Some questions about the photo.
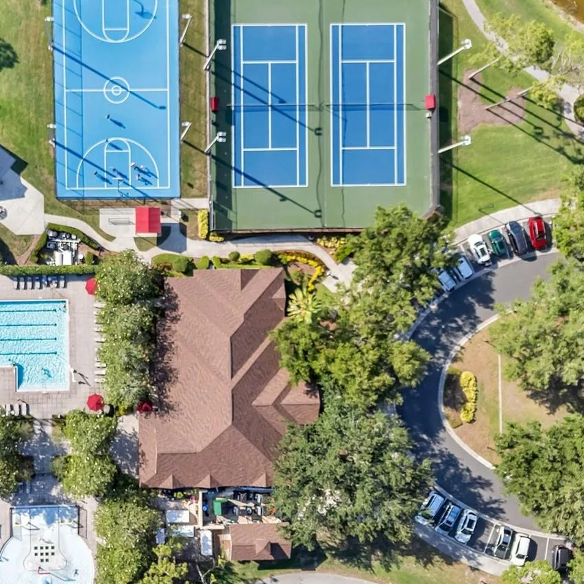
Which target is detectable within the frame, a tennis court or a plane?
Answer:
tennis court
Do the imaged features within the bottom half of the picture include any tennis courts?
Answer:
No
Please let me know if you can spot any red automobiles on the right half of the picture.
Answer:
Yes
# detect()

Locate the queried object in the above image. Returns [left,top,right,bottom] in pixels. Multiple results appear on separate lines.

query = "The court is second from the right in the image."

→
[213,0,323,229]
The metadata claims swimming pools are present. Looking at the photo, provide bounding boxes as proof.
[0,299,71,392]
[0,506,96,584]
